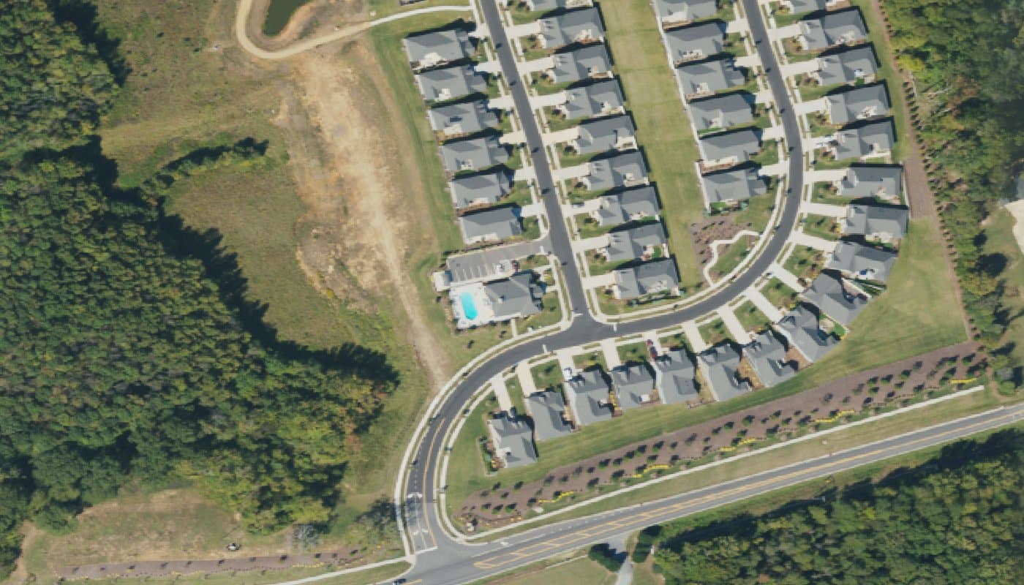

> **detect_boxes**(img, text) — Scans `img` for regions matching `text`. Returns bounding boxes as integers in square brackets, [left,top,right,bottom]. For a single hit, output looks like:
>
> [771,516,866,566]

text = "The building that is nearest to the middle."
[483,269,549,316]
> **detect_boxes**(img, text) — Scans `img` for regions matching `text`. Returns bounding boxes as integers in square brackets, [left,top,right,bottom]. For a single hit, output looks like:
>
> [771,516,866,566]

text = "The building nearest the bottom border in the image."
[490,417,538,468]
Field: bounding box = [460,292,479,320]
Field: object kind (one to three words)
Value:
swimming pool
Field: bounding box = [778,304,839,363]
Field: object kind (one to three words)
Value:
house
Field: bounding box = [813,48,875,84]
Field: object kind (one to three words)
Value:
house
